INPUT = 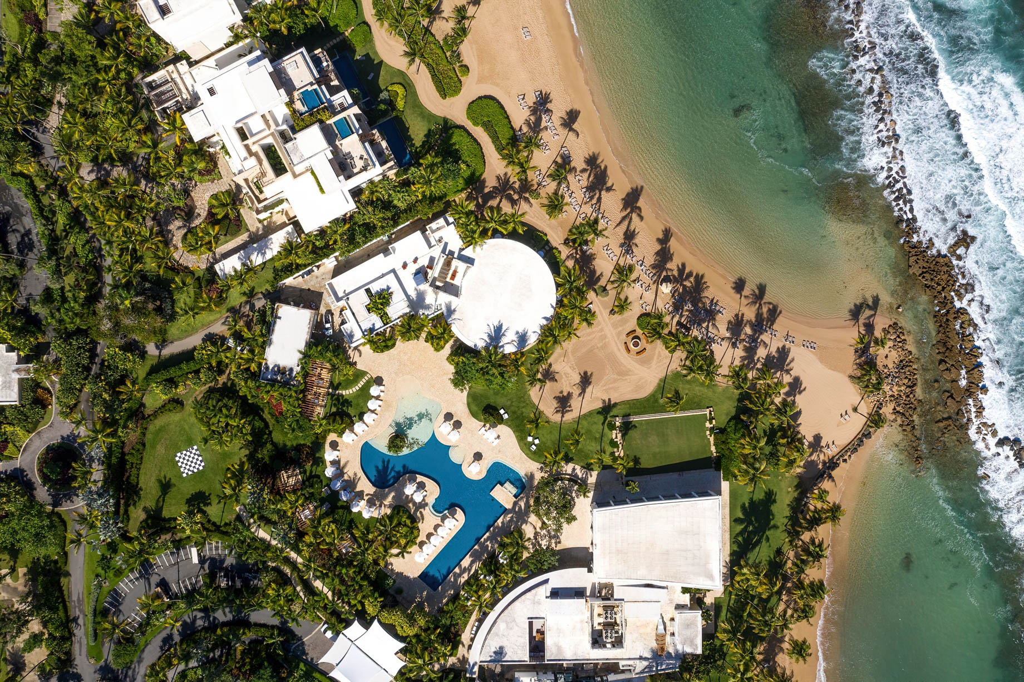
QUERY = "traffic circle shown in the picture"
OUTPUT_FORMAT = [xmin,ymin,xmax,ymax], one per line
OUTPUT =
[18,423,104,509]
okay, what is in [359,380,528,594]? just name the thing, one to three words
swimming pool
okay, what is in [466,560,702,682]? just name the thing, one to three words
building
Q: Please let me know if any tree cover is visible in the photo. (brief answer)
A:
Yes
